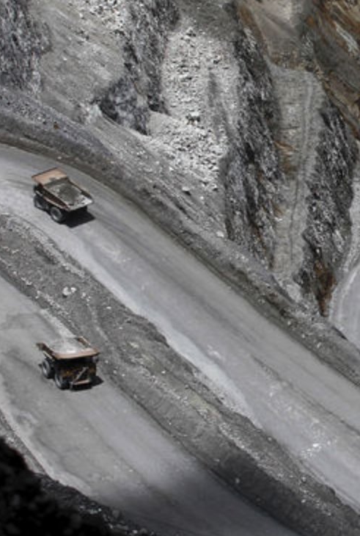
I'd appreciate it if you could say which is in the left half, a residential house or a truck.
truck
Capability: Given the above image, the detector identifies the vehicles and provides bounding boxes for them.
[28,169,87,227]
[39,326,101,390]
